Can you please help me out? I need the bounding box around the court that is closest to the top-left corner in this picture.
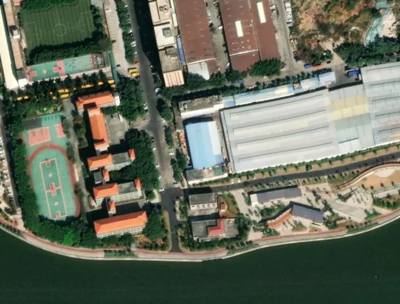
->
[26,55,86,82]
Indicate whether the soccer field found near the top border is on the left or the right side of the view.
left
